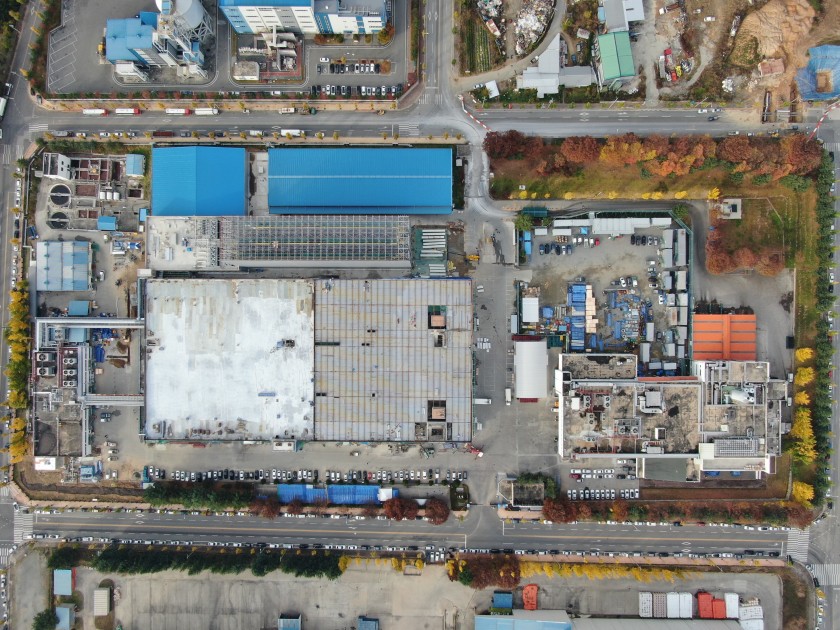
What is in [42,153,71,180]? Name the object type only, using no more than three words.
house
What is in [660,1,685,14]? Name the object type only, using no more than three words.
vehicle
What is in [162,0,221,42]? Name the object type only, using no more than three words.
silo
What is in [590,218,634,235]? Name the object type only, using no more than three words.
shed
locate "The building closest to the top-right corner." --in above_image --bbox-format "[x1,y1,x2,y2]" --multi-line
[753,58,785,78]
